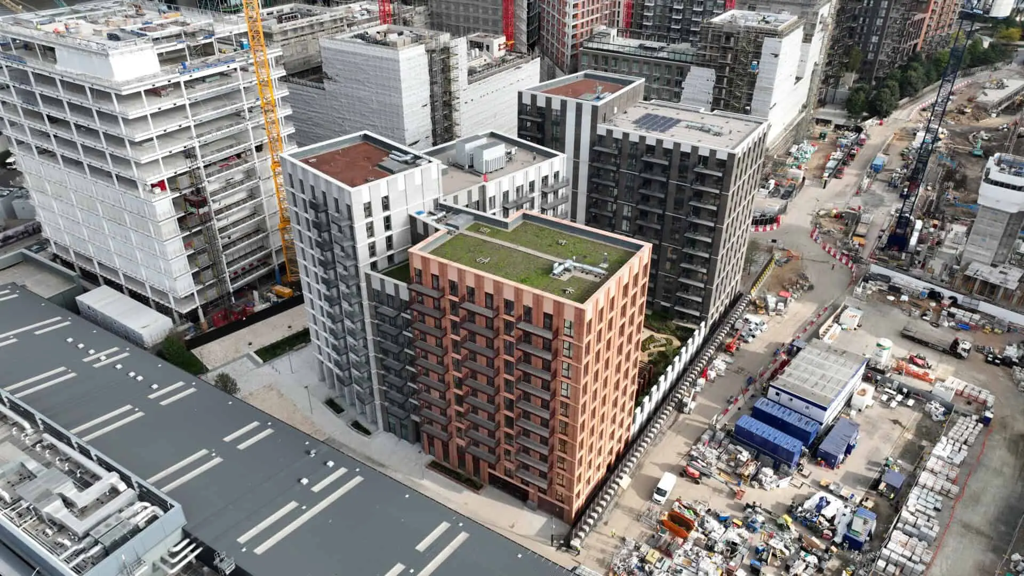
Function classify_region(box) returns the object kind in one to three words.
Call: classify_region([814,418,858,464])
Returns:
shipping container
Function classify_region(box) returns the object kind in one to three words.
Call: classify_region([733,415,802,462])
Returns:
shipping container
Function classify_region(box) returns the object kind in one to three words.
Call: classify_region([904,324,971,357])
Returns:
truck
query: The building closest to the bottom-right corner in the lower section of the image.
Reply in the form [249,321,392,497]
[766,338,861,433]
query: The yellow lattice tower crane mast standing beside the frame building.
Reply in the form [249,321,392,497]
[244,0,303,285]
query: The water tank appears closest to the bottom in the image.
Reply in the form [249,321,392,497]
[849,389,877,418]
